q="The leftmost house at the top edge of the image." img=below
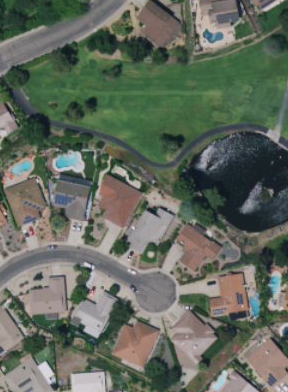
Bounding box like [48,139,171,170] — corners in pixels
[136,0,182,48]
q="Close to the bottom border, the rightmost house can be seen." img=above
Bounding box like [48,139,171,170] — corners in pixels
[244,338,288,386]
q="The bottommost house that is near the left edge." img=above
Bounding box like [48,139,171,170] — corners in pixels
[6,354,56,392]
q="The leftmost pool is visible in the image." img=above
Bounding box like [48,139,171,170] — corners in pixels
[10,159,33,177]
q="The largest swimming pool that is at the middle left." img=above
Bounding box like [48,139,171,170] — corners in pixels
[54,150,84,171]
